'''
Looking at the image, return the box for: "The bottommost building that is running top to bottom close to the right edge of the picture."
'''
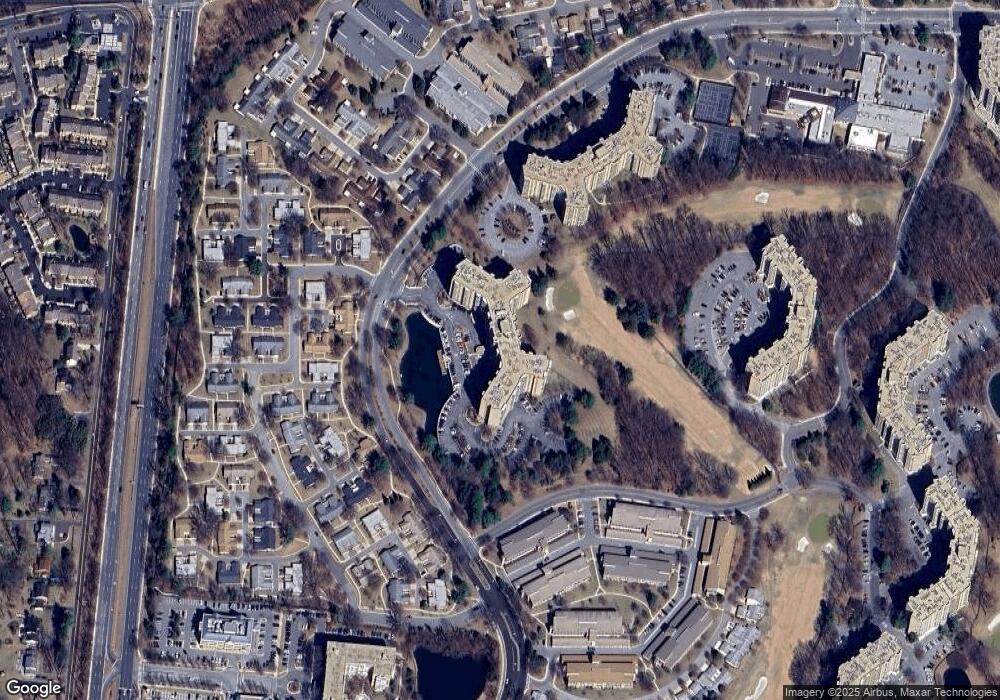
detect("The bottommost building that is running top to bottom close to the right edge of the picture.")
[903,476,981,642]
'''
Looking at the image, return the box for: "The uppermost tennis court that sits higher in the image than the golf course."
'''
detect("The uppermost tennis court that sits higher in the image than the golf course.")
[695,79,735,126]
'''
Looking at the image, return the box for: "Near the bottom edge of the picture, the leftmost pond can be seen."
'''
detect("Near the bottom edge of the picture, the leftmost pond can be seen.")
[414,644,494,700]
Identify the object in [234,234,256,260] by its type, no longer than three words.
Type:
house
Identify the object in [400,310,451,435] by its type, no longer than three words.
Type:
pond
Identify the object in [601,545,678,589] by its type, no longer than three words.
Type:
building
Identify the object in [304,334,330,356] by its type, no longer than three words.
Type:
house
